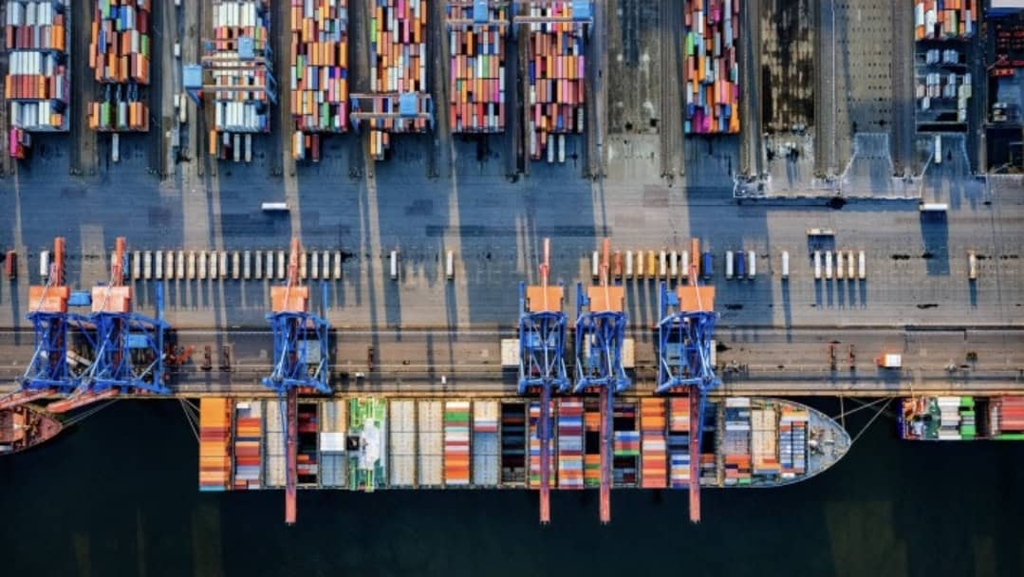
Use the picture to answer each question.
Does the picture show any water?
Yes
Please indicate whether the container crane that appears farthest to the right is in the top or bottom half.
bottom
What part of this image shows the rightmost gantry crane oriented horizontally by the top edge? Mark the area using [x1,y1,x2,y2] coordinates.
[514,0,594,33]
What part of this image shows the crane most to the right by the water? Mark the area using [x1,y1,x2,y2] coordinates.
[650,240,719,524]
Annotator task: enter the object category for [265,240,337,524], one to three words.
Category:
container crane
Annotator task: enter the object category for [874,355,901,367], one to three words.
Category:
vehicle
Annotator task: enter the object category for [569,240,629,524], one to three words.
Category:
container crane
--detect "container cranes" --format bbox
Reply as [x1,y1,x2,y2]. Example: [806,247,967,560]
[351,94,434,126]
[0,240,117,419]
[514,0,594,33]
[515,240,568,524]
[650,240,719,524]
[446,1,512,34]
[183,65,280,98]
[265,240,337,524]
[202,41,280,71]
[39,240,181,425]
[569,240,629,524]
